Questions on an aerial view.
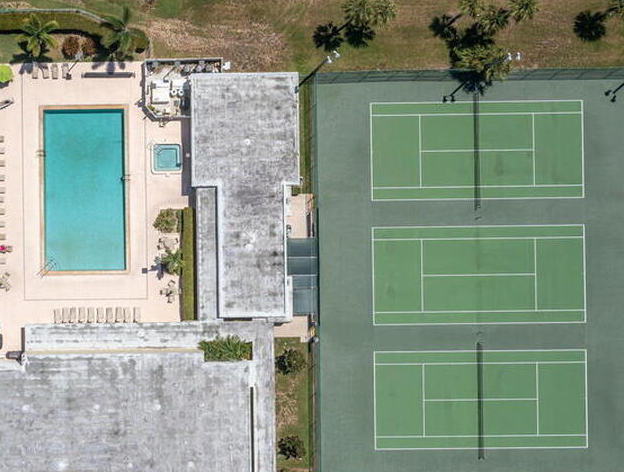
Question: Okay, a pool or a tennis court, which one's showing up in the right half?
tennis court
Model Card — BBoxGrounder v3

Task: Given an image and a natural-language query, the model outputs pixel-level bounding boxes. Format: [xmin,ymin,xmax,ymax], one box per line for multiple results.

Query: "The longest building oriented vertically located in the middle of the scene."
[191,72,301,323]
